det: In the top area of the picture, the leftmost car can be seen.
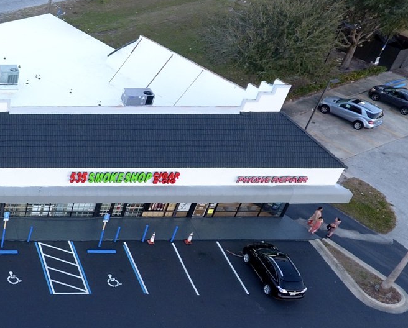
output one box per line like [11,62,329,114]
[318,94,386,129]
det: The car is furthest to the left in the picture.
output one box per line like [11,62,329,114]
[246,243,311,301]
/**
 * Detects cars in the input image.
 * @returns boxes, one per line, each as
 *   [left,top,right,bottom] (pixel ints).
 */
[368,82,408,115]
[246,243,311,301]
[318,94,386,129]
